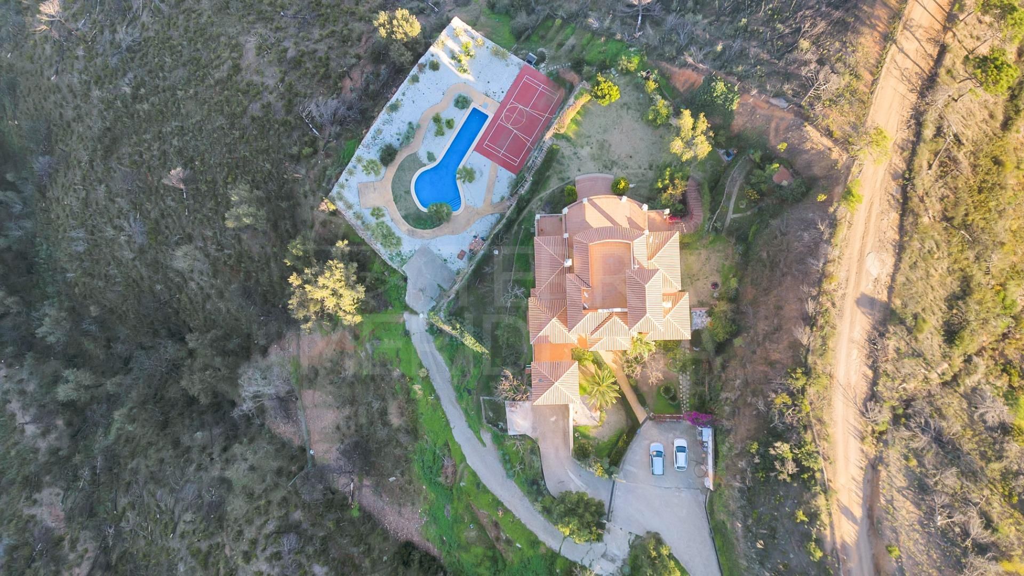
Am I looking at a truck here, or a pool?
pool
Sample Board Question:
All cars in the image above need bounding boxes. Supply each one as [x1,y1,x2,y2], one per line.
[650,443,666,477]
[674,439,690,473]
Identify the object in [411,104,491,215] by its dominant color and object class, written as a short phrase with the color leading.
blue swimming pool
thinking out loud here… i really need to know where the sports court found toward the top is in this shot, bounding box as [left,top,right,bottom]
[474,64,563,174]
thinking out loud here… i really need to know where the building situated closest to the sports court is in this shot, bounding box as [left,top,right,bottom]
[528,196,691,405]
